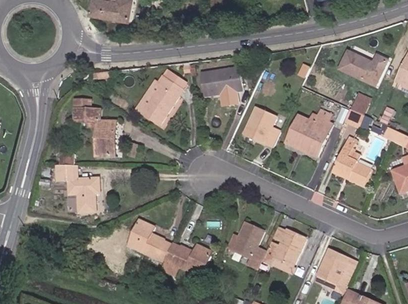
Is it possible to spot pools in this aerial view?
Yes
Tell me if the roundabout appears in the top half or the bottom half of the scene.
top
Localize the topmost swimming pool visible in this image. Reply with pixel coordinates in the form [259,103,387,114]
[358,130,388,168]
